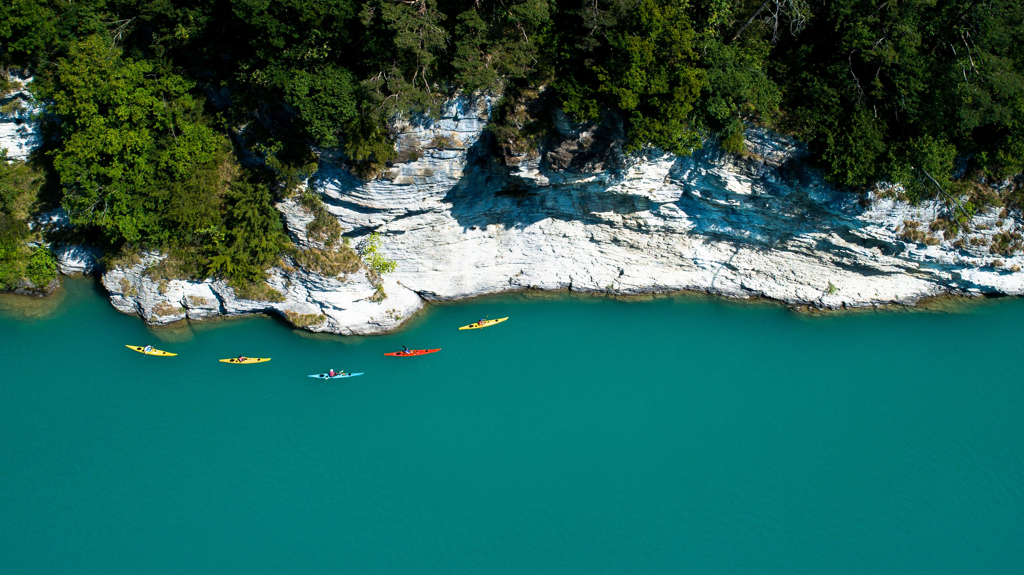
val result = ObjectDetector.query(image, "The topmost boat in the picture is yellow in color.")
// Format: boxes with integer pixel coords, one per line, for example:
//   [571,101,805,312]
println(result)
[459,317,509,330]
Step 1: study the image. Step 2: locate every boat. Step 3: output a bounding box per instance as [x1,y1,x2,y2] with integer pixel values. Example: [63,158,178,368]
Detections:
[220,358,271,364]
[384,349,441,357]
[459,317,509,330]
[126,346,178,356]
[308,372,364,379]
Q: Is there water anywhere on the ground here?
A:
Yes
